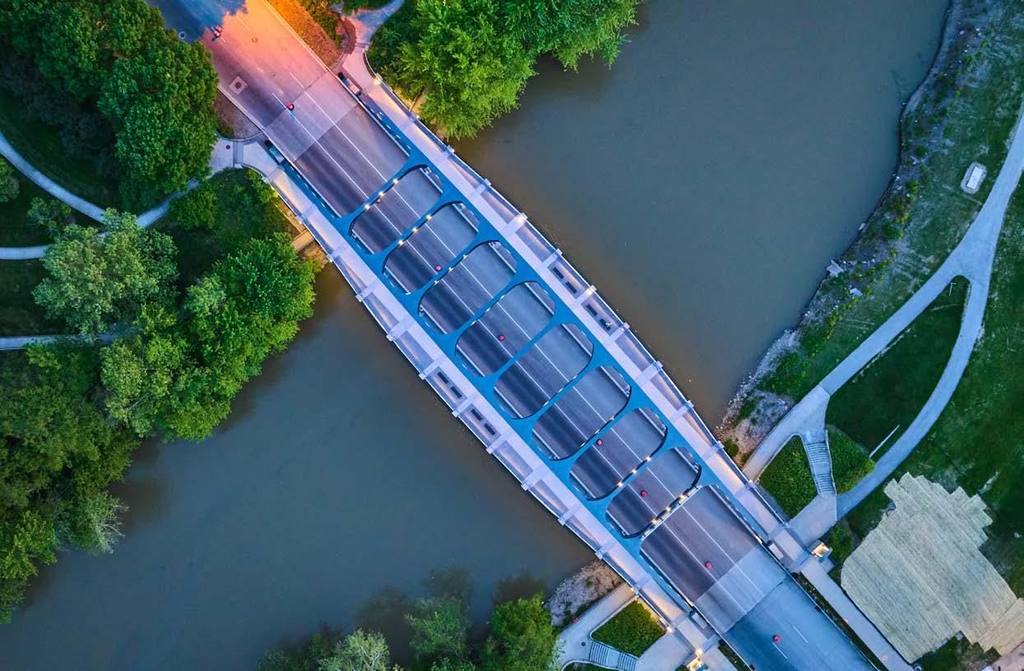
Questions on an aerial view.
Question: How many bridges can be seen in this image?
one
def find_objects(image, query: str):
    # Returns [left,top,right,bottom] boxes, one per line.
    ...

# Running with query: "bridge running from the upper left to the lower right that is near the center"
[257,62,795,642]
